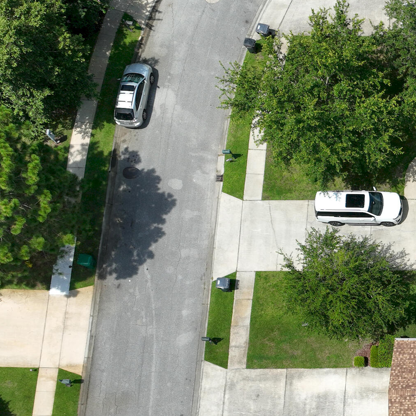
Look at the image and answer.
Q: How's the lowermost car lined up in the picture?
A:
from left to right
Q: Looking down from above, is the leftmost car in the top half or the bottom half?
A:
top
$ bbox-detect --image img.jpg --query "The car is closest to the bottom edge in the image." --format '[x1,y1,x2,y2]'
[313,185,404,229]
